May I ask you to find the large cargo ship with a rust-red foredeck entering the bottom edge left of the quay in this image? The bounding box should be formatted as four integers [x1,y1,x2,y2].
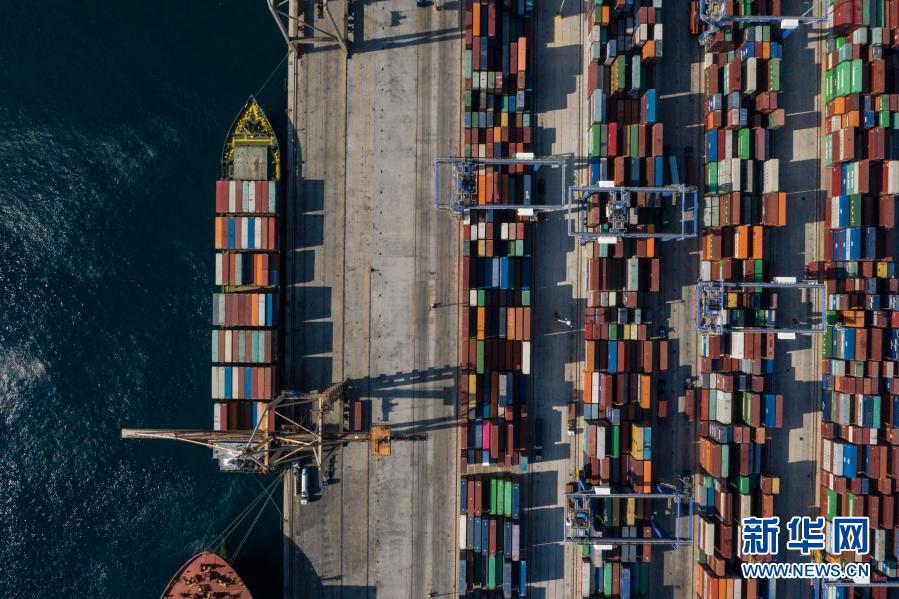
[161,550,252,599]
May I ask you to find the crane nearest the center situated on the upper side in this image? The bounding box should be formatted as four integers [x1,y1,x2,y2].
[437,148,565,225]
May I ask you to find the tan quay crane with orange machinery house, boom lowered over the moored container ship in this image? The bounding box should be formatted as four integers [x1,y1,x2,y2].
[119,377,424,469]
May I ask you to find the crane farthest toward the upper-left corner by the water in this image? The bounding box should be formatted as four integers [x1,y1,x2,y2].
[263,0,348,68]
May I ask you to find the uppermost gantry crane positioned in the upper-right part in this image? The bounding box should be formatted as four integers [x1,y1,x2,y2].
[698,0,830,50]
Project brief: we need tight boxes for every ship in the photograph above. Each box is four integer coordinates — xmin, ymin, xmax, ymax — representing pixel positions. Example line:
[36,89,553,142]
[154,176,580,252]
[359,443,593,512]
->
[210,95,282,471]
[161,550,252,599]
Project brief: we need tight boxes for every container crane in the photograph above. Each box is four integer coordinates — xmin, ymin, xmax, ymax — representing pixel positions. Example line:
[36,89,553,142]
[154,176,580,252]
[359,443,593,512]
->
[568,177,697,249]
[565,471,694,553]
[694,274,826,343]
[119,377,424,469]
[263,0,348,68]
[698,0,830,50]
[437,148,565,225]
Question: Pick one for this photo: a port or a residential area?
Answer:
port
